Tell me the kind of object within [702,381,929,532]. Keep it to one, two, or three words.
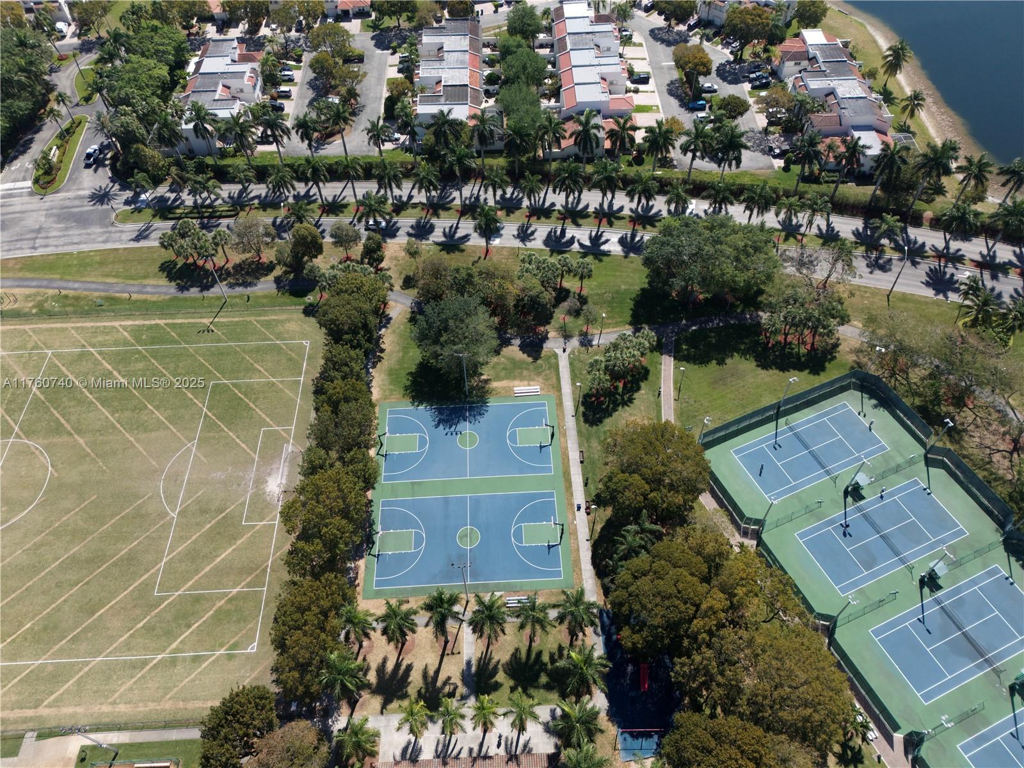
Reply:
tennis court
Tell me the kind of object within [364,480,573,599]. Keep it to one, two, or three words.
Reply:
basketball court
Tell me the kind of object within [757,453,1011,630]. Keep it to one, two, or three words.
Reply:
tennis court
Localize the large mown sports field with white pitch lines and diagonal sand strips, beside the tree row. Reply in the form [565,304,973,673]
[0,305,318,731]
